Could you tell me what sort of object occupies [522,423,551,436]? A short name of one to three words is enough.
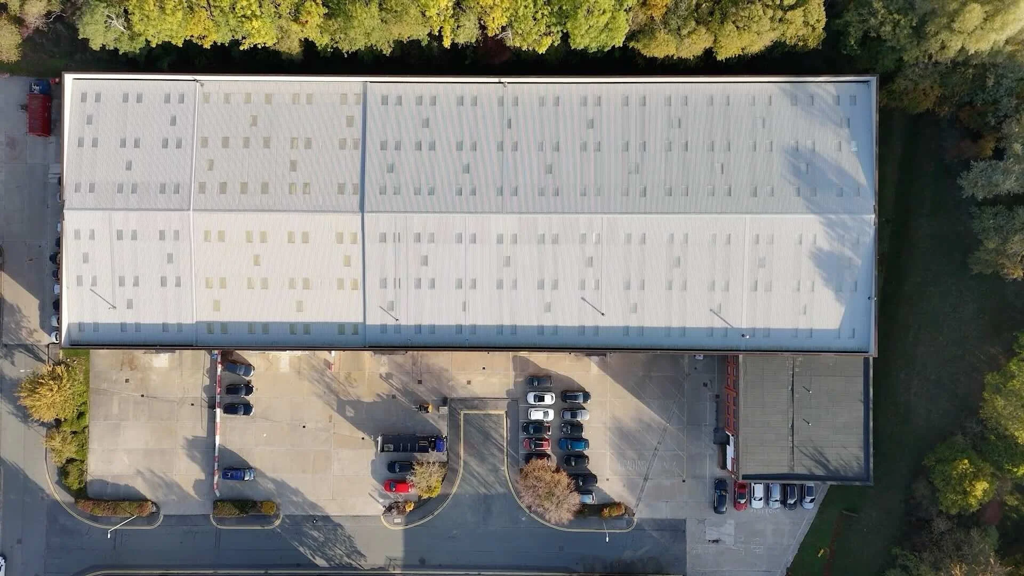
vehicle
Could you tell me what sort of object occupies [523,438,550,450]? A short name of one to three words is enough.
vehicle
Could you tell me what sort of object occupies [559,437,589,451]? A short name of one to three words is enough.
car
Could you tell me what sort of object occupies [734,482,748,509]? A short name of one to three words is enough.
car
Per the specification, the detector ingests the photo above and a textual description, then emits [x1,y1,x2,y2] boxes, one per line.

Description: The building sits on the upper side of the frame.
[61,72,879,356]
